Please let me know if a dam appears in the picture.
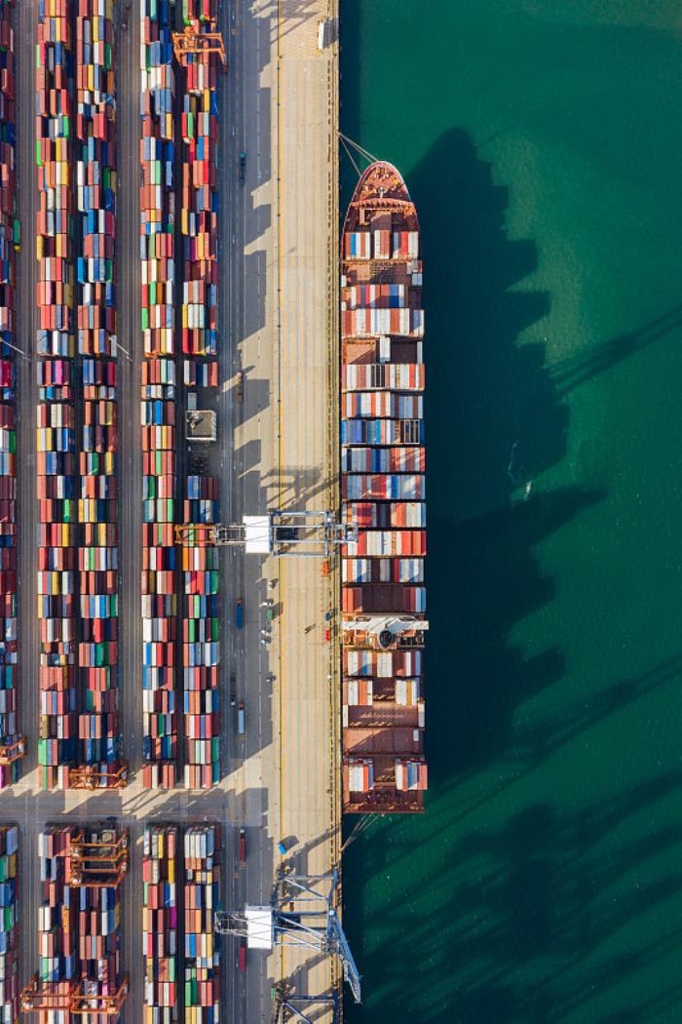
No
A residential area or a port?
port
